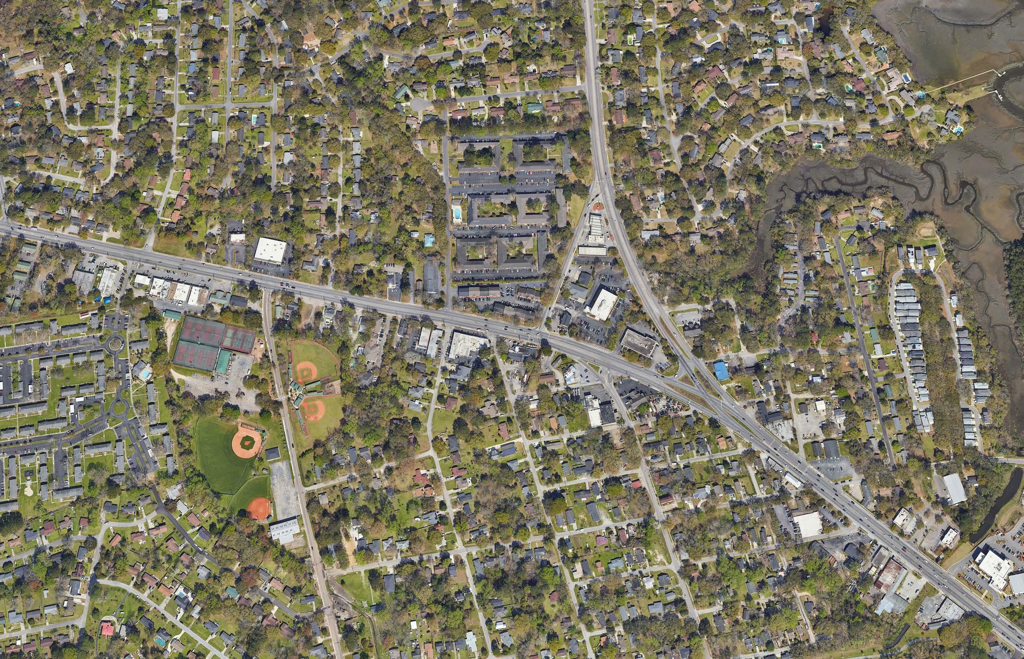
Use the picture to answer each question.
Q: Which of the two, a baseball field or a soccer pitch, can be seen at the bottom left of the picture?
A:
baseball field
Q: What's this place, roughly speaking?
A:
residential area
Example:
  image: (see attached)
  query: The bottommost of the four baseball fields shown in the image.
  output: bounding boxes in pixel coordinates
[226,476,272,521]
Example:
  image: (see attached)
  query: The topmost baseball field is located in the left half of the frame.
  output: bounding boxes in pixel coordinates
[290,340,341,386]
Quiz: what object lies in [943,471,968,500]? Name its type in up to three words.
building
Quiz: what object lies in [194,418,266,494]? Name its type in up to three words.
baseball field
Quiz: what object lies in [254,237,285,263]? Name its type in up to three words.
building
